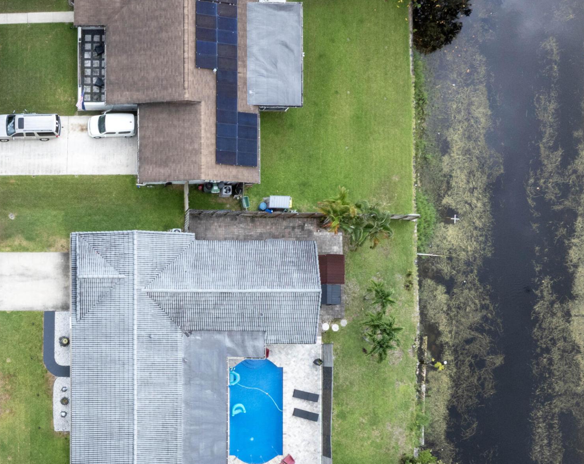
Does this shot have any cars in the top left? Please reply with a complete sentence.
Yes, in the top left there is a car.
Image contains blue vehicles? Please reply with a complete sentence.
No, I find no blue vehicle anywhere in the image.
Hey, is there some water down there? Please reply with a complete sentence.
Yes, there is water in the image.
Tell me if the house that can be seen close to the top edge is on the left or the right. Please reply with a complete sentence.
You can find the house that can be seen close to the top edge on the left side of the picture.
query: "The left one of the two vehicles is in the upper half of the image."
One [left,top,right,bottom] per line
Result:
[0,110,61,143]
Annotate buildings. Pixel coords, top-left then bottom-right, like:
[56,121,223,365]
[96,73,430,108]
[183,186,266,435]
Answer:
[74,0,304,185]
[70,229,322,464]
[266,194,297,213]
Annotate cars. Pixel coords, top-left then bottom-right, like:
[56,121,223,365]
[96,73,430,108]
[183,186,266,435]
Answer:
[86,111,136,140]
[0,110,61,143]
